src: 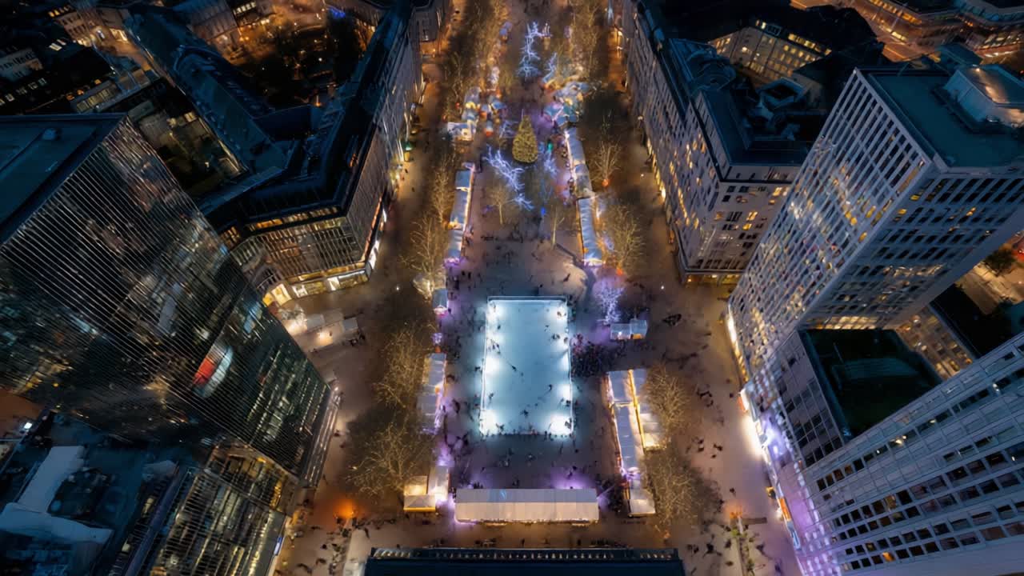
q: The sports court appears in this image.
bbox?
[474,292,579,440]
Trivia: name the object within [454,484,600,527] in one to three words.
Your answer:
tent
